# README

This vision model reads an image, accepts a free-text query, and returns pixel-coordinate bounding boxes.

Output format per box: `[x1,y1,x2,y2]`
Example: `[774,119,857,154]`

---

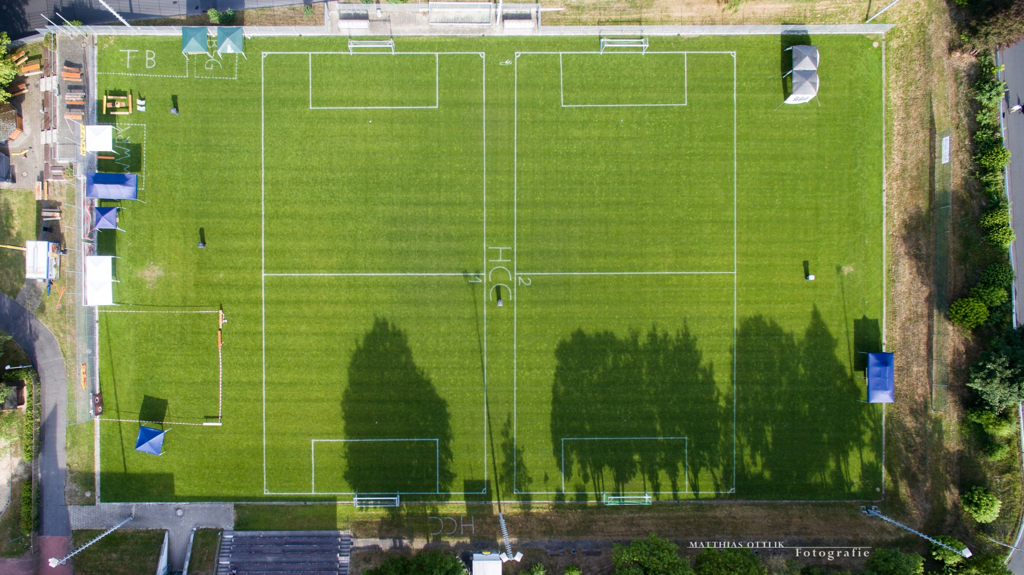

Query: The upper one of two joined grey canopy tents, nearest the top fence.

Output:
[782,45,820,77]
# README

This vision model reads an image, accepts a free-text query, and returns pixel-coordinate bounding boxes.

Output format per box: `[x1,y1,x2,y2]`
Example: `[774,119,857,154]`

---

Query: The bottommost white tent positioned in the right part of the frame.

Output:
[780,70,821,106]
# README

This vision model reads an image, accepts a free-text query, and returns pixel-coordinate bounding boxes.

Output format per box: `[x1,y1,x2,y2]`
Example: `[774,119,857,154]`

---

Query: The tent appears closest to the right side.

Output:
[856,352,894,403]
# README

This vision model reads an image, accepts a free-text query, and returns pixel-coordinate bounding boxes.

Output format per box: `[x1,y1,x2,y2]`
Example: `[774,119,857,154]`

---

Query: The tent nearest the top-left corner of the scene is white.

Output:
[86,125,122,156]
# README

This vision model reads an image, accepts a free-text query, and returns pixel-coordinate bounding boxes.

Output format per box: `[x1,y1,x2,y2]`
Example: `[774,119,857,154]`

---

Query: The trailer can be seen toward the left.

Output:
[26,241,62,292]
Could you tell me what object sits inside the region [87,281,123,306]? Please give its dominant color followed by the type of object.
white tent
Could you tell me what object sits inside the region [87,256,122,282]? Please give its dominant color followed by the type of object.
white tent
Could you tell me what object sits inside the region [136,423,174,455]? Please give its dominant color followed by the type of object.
blue tent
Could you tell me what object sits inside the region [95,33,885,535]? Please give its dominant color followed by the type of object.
green sports field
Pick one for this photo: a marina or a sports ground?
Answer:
sports ground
